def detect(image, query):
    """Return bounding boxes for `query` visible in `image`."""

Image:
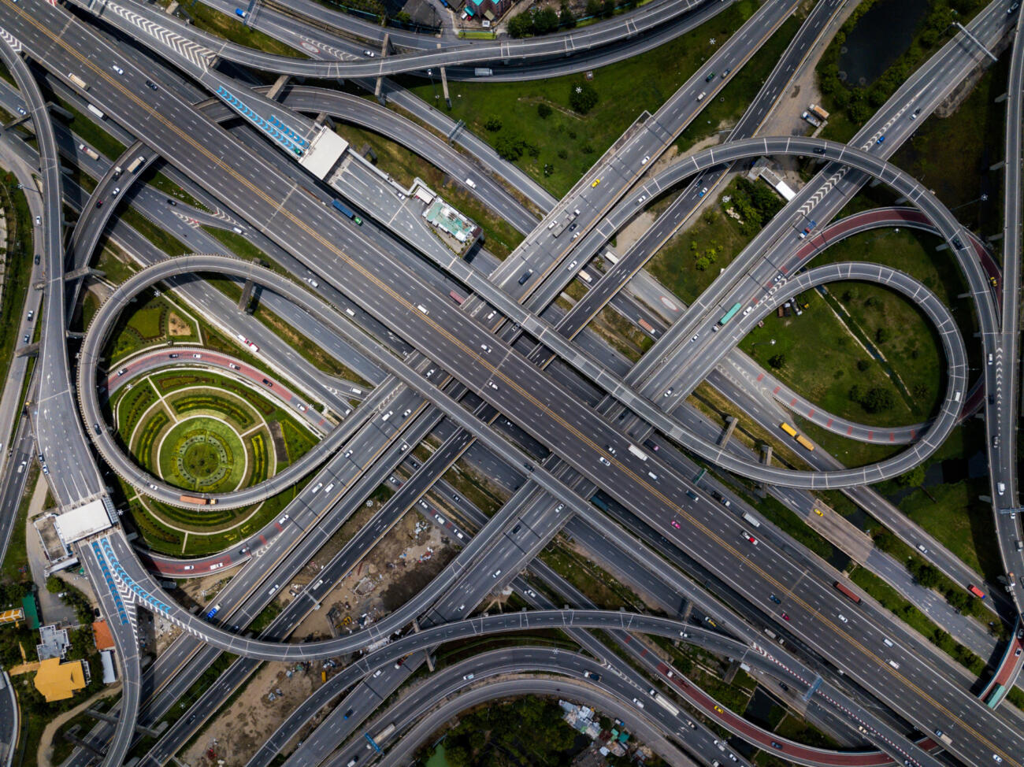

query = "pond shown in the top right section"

[837,0,928,89]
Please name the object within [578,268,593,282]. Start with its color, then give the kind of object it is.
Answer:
white vehicle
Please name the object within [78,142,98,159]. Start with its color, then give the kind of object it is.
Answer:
white vehicle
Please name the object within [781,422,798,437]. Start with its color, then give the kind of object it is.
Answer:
yellow vehicle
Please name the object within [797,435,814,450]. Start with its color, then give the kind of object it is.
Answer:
orange vehicle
